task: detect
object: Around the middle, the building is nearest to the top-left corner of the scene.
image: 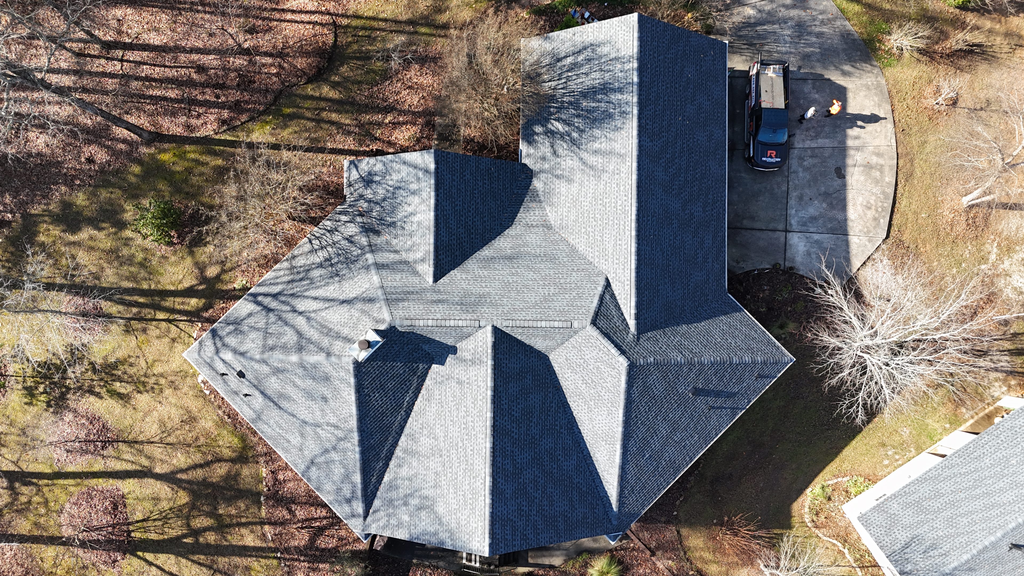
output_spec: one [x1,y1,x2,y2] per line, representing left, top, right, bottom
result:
[183,14,796,554]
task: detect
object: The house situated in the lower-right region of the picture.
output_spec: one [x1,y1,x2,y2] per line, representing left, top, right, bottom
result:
[842,396,1024,576]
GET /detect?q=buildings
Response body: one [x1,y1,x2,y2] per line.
[842,396,1024,576]
[183,14,796,554]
